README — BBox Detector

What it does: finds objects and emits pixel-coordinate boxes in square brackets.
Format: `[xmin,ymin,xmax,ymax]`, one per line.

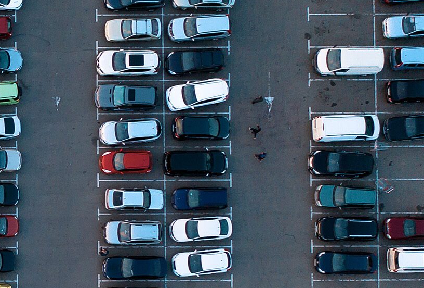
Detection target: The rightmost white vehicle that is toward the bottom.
[385,247,424,272]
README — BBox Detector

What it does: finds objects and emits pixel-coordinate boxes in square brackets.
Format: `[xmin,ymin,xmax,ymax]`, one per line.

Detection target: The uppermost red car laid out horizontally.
[99,148,155,174]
